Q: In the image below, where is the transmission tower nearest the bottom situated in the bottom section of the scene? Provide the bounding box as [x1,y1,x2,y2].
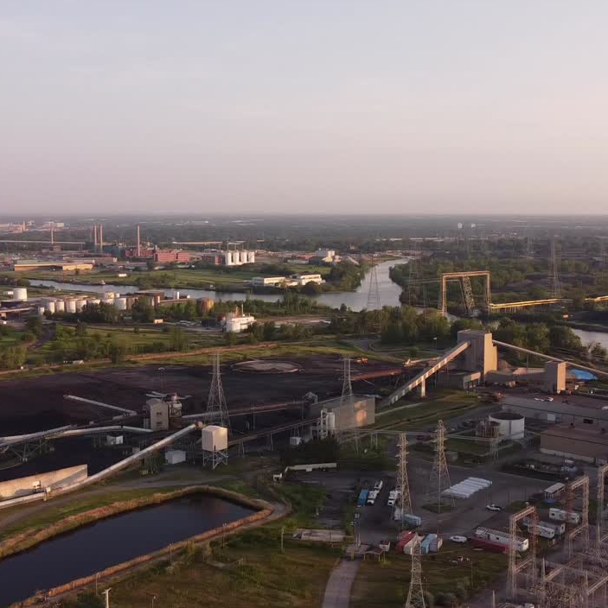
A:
[401,532,431,608]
